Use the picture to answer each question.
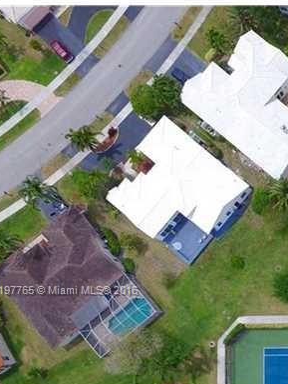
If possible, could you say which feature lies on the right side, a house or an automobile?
house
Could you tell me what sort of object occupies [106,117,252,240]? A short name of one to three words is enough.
house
